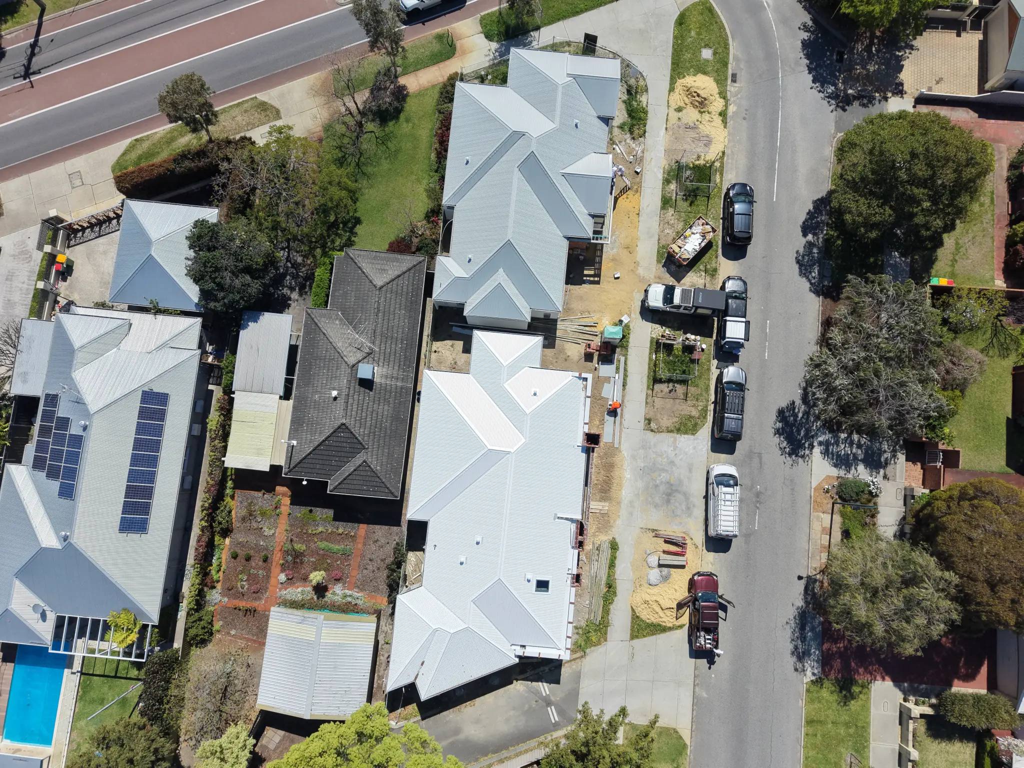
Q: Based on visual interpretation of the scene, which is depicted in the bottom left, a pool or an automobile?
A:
pool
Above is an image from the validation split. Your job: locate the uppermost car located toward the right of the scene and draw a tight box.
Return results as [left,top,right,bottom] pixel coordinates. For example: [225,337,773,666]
[722,184,758,247]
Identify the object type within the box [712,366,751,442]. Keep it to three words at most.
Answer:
truck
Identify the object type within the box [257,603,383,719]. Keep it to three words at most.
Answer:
shed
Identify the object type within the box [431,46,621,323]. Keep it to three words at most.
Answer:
house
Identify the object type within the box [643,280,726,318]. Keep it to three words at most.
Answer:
truck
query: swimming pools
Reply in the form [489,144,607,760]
[1,641,73,747]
